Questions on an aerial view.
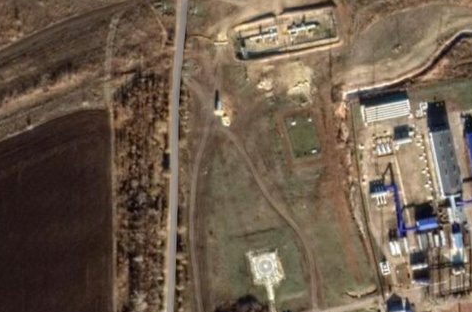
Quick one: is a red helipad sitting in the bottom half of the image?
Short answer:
No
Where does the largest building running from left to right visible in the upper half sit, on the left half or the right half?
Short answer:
right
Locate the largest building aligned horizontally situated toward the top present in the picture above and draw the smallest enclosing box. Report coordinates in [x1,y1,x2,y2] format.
[365,101,410,120]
